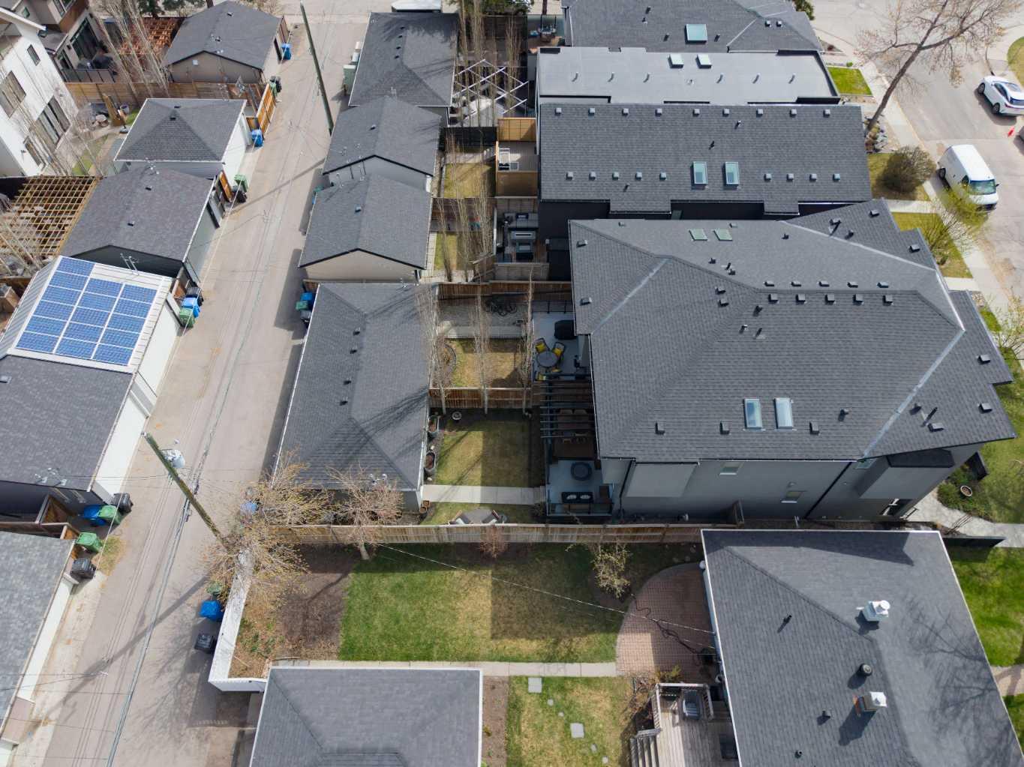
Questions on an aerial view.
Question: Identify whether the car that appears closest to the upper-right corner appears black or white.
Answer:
white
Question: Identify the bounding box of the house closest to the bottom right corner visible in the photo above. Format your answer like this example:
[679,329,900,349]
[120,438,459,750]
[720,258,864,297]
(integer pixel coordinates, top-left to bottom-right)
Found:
[698,528,1024,767]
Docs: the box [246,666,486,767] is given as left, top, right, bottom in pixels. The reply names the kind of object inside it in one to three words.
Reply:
building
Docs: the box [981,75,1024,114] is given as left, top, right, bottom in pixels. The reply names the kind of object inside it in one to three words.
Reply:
car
